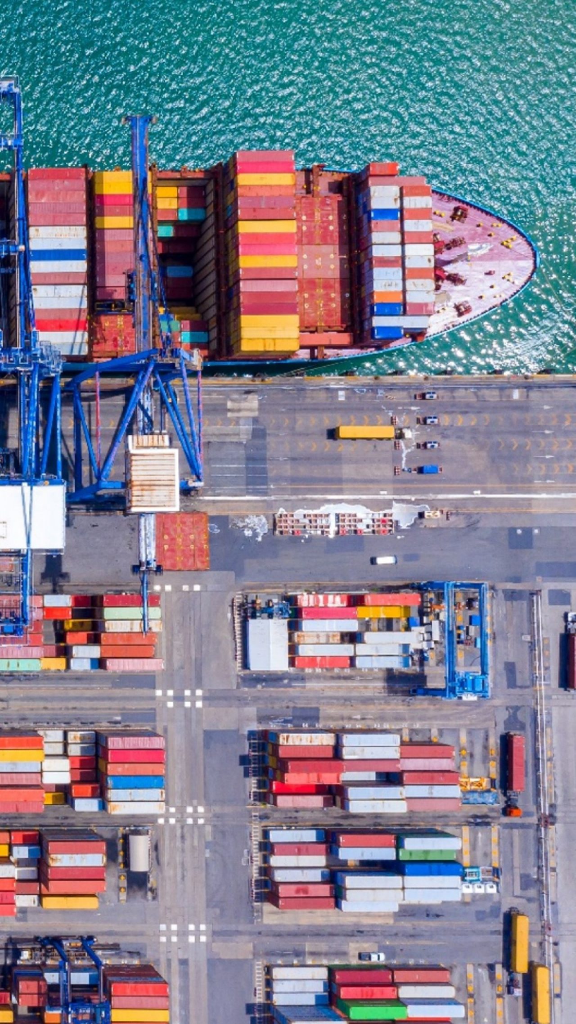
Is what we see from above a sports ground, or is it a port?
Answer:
port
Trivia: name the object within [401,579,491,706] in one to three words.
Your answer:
crane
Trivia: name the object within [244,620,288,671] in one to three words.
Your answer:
shed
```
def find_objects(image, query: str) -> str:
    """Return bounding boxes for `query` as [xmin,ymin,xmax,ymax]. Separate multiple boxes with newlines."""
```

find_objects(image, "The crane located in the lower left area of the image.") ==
[44,931,108,1024]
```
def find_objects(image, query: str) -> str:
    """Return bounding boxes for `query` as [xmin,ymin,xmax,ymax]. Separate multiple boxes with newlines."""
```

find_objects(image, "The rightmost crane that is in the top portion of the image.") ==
[56,119,205,632]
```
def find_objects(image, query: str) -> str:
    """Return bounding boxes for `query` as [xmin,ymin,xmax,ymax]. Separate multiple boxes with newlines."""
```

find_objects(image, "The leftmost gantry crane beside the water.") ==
[0,73,64,638]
